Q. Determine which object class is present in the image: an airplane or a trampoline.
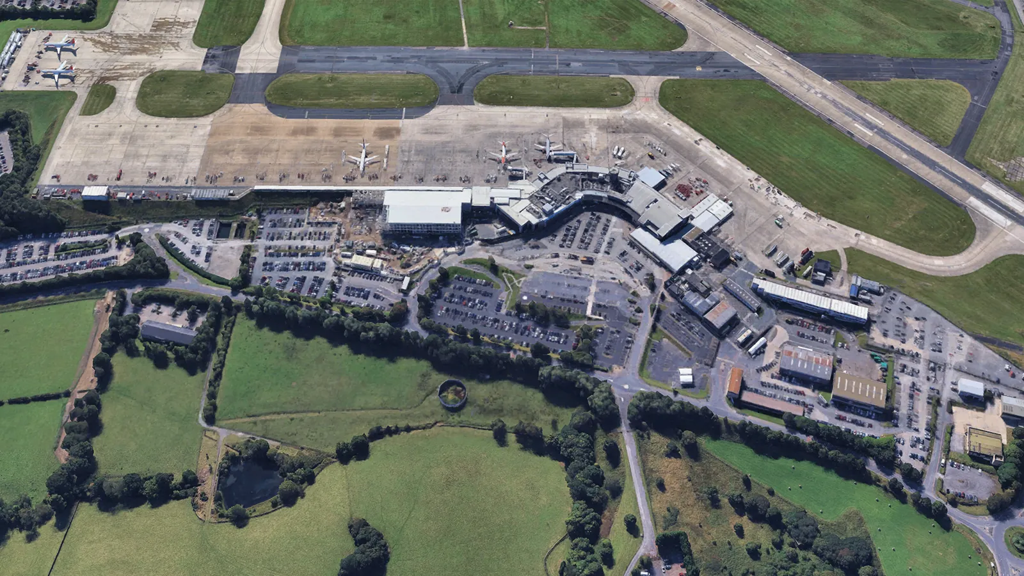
airplane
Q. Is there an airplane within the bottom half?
No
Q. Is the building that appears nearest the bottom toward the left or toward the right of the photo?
right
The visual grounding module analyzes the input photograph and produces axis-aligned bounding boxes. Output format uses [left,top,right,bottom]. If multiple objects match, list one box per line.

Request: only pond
[219,460,282,508]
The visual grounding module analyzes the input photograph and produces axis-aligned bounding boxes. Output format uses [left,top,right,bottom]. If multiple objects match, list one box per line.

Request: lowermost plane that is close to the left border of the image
[43,60,74,83]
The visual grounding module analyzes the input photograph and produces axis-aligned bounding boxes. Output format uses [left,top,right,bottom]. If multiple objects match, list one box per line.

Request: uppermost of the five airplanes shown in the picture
[44,32,75,55]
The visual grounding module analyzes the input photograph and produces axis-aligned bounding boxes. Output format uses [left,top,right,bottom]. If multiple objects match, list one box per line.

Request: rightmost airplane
[533,133,562,161]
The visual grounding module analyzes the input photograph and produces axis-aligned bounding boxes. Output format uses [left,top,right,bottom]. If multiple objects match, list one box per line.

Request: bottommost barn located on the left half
[142,320,196,346]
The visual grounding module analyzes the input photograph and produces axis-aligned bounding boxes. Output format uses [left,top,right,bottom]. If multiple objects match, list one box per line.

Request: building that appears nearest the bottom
[966,427,1003,457]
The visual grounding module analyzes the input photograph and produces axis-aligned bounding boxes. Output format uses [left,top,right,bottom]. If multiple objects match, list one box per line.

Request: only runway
[649,0,1024,241]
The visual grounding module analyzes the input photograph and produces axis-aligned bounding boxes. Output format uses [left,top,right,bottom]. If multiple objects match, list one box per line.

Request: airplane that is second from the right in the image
[489,142,518,167]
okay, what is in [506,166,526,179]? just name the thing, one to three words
jet bridge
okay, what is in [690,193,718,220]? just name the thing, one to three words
shed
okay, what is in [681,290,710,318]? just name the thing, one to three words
hangar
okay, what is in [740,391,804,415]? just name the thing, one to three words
building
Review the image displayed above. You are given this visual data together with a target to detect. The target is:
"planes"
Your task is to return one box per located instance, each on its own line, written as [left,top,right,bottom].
[347,143,378,175]
[44,32,75,55]
[489,142,518,167]
[43,60,74,83]
[533,133,562,161]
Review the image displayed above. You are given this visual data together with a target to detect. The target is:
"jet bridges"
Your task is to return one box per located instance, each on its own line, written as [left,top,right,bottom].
[506,166,526,179]
[549,152,577,163]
